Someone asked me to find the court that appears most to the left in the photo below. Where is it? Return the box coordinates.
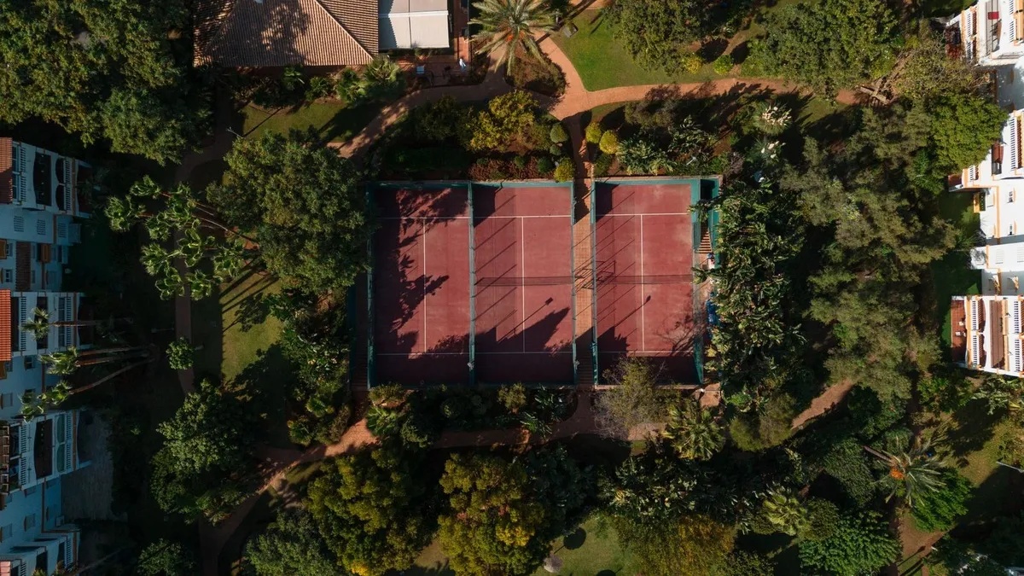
[364,178,471,390]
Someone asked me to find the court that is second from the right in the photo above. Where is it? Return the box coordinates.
[469,178,578,390]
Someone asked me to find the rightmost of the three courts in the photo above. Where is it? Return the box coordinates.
[593,178,704,390]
